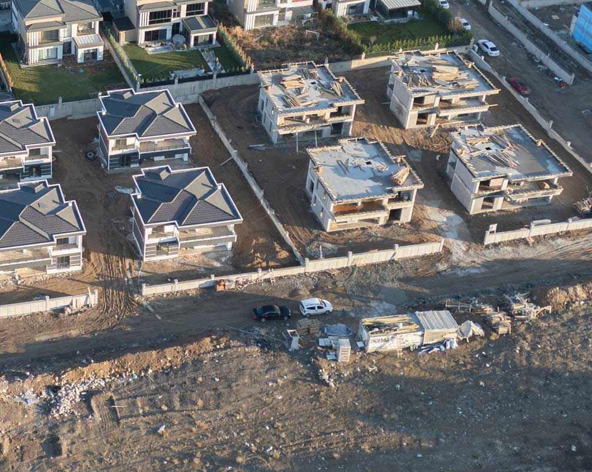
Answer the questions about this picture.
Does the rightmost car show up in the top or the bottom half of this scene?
top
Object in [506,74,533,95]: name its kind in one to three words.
car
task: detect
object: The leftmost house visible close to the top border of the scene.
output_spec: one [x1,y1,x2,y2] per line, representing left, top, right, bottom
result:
[15,0,107,66]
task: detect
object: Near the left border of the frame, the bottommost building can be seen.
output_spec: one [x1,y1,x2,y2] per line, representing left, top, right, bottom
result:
[0,177,83,276]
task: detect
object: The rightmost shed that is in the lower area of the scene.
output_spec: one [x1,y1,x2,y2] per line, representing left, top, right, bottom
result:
[414,300,466,340]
